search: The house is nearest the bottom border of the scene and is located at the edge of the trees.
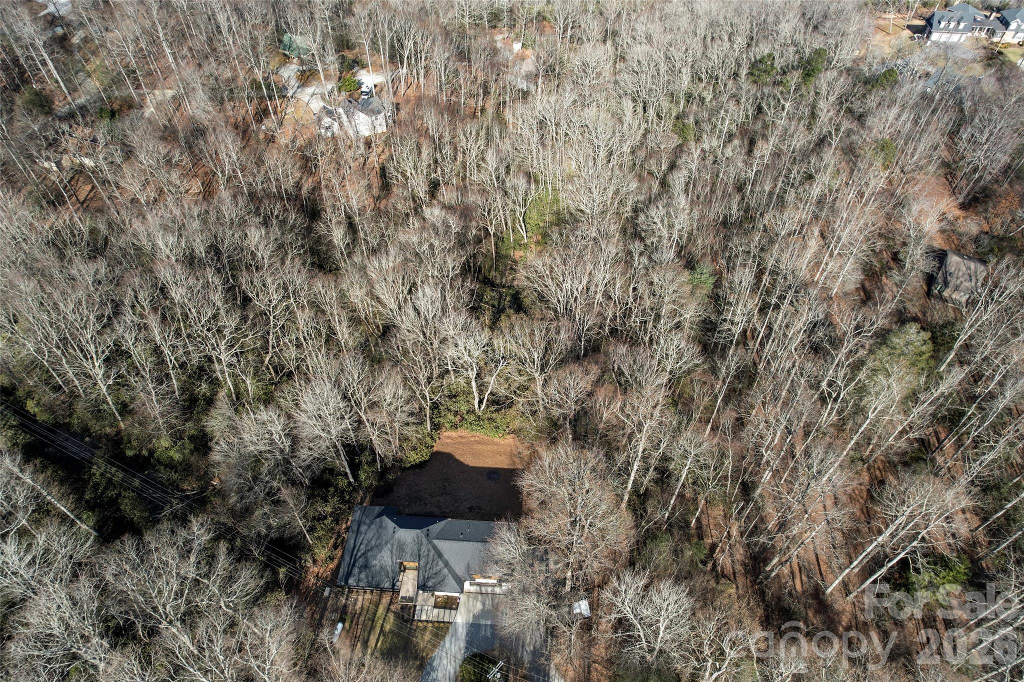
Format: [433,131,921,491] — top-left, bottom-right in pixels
[337,505,521,598]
